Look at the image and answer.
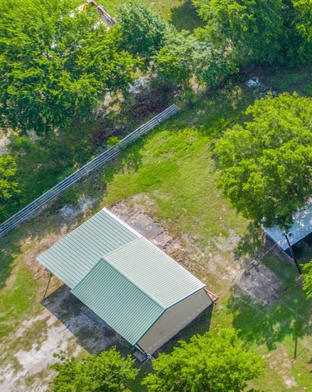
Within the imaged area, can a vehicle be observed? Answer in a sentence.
No, the photo shows no vehicle.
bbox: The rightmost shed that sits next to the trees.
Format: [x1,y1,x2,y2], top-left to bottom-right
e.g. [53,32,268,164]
[260,197,312,261]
